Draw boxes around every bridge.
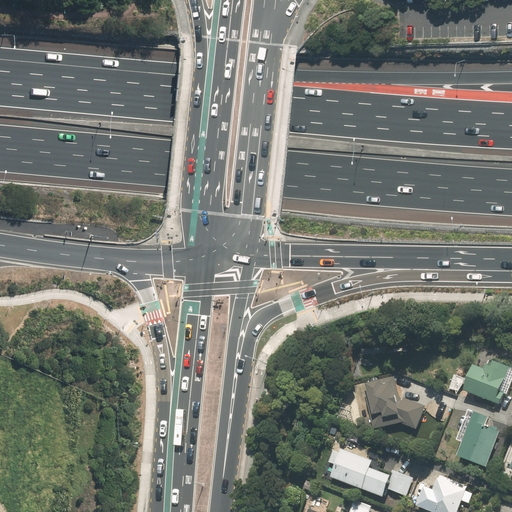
[165,35,298,220]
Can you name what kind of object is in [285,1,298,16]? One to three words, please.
vehicle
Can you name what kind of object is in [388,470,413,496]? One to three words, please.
building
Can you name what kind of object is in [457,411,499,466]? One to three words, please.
house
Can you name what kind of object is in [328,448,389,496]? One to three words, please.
house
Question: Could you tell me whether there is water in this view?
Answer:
No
